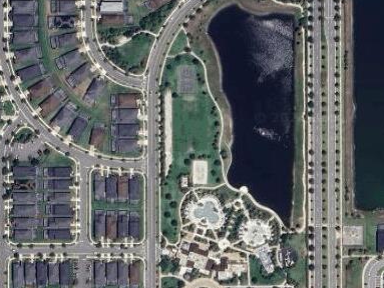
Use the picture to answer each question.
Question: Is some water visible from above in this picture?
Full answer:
Yes, water shows up in the scene.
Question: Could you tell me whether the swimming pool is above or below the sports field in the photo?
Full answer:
Relative to the sports field, the swimming pool lies below it.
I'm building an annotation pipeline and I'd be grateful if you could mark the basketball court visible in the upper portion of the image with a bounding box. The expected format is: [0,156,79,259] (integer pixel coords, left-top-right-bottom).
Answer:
[178,64,197,95]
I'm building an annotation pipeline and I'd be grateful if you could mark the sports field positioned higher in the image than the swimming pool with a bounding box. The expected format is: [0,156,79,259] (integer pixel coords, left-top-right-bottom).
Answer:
[174,99,218,155]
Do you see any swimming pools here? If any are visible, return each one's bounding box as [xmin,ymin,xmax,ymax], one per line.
[194,200,220,225]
